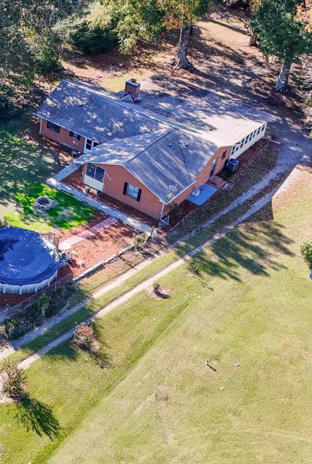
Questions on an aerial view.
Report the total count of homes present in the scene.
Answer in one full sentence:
The count comes to 1 home.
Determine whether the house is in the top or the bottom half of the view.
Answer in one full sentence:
The house sits in the top half of the picture.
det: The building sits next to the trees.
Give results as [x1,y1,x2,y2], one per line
[28,76,277,221]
